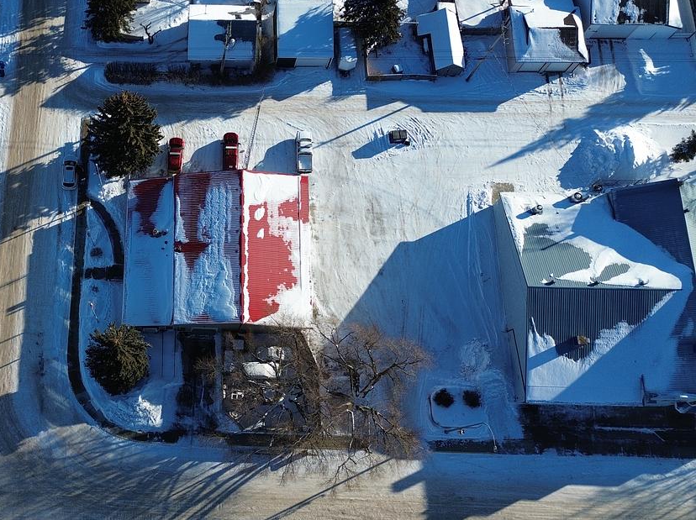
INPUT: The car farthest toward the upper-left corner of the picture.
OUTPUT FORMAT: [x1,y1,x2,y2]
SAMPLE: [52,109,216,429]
[61,158,80,193]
